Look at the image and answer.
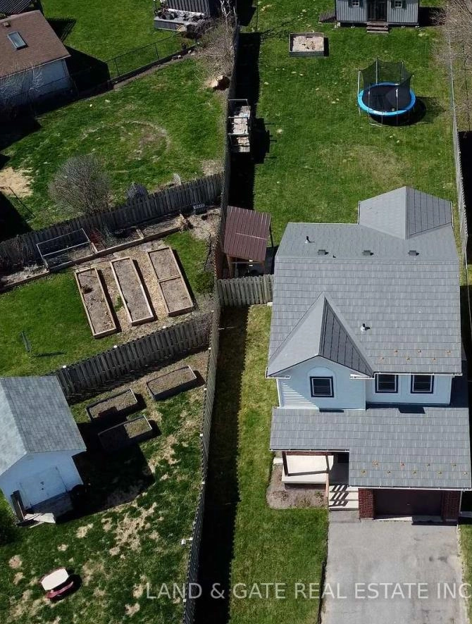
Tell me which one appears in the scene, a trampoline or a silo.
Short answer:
trampoline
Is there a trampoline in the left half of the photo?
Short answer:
No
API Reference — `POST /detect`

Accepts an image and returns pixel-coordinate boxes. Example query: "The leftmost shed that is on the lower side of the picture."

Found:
[0,375,88,526]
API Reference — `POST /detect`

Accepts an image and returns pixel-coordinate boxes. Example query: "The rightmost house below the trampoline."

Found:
[264,183,472,521]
